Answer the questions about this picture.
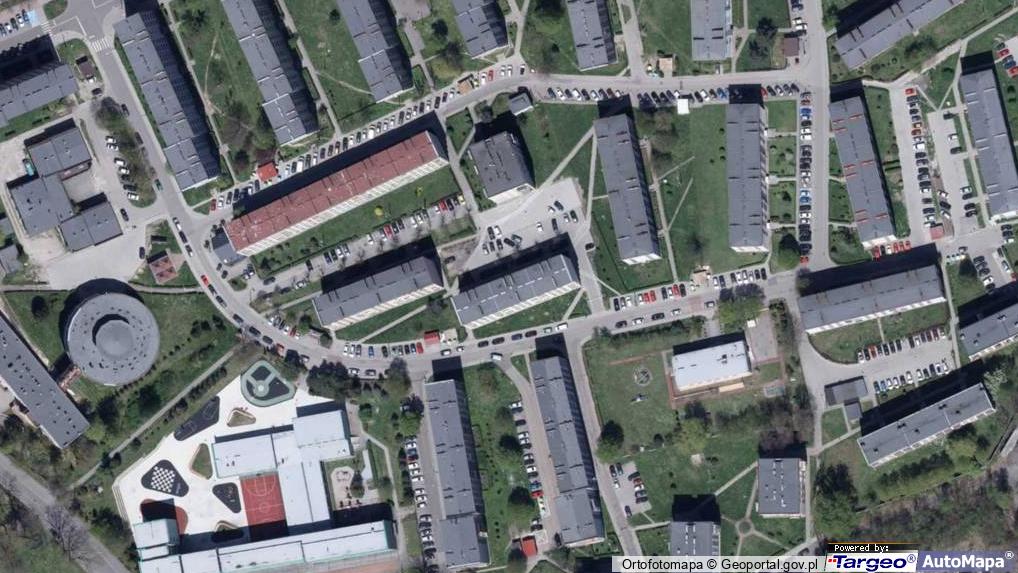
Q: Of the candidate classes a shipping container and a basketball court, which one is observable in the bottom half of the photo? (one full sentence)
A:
It is a basketball court that can be seen in the bottom half of the photo.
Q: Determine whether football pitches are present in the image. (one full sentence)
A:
No, no football pitch is visible in the scene.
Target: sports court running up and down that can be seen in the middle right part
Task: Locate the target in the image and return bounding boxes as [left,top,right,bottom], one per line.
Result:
[751,308,786,386]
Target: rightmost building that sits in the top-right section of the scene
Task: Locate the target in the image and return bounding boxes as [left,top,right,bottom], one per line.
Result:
[960,68,1018,222]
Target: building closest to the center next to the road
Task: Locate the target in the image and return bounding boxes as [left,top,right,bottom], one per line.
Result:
[450,254,580,330]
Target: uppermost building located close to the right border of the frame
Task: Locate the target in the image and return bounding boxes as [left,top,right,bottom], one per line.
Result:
[836,0,981,75]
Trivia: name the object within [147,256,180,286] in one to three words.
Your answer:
house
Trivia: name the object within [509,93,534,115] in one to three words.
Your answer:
building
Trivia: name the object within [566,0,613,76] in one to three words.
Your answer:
building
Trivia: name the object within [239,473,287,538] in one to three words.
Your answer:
basketball court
